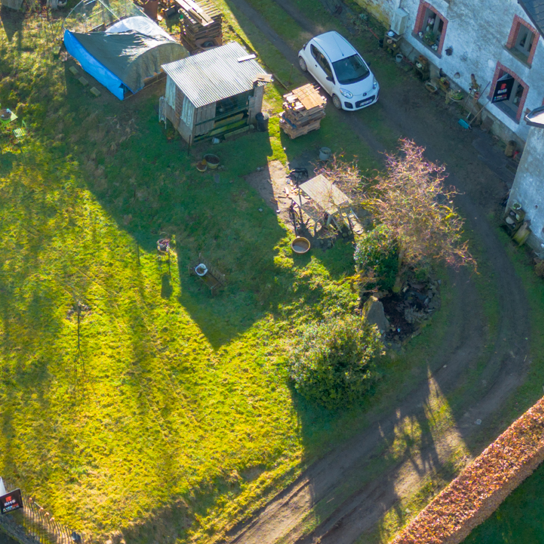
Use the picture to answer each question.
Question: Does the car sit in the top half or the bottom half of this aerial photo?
top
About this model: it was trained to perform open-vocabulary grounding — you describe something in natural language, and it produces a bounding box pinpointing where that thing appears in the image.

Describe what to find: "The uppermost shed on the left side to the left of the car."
[159,50,275,146]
